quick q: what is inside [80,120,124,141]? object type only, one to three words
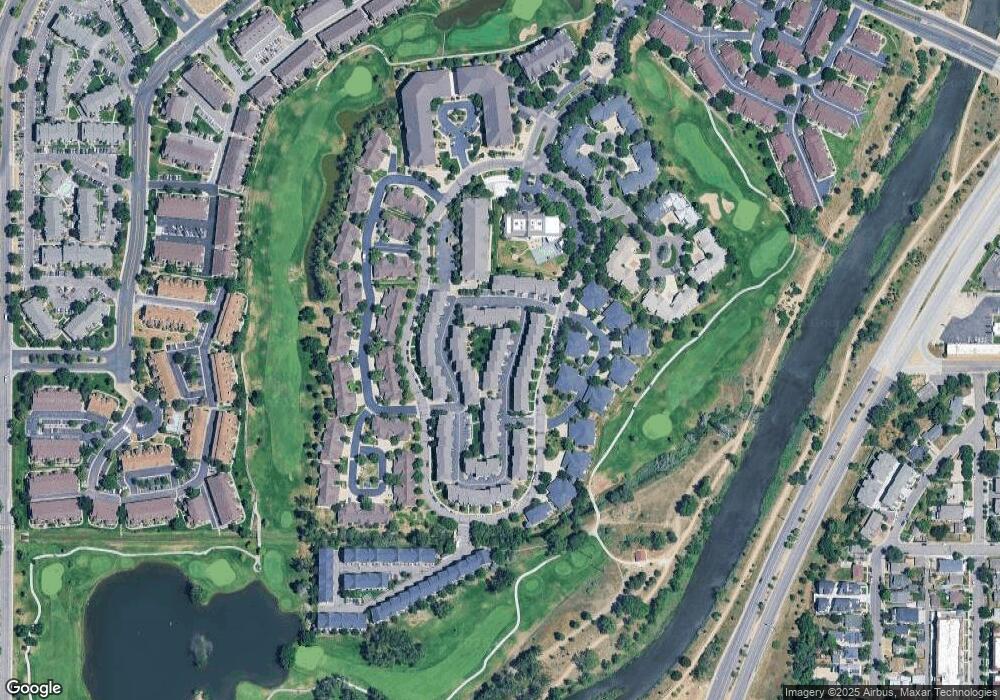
building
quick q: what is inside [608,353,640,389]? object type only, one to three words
house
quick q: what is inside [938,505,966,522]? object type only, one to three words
house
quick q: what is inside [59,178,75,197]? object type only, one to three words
swimming pool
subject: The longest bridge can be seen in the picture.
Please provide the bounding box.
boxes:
[921,13,992,69]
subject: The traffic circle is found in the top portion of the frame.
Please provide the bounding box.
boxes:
[647,235,684,272]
